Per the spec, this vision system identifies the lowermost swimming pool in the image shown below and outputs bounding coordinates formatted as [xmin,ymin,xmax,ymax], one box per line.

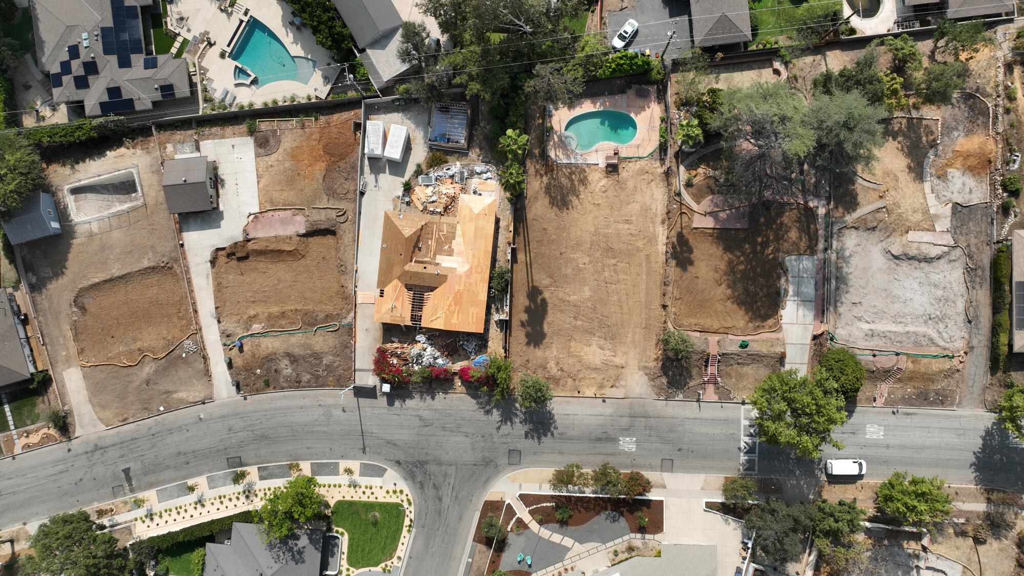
[62,167,144,224]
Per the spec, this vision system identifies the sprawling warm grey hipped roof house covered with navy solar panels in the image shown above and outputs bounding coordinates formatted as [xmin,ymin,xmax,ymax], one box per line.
[33,0,199,117]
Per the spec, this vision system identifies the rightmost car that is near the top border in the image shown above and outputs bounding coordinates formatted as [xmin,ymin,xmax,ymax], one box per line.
[610,11,643,52]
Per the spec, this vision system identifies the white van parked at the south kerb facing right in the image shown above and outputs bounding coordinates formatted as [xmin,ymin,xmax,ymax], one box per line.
[827,459,869,479]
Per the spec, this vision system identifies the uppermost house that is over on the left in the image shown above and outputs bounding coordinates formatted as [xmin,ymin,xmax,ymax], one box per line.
[341,0,403,50]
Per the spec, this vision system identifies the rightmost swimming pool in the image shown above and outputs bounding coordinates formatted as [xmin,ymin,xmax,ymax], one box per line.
[841,0,883,20]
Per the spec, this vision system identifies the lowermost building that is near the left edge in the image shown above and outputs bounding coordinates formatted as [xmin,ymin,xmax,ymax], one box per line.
[0,288,46,386]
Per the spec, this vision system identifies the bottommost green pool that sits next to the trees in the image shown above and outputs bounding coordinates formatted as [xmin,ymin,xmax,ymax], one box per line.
[562,108,639,154]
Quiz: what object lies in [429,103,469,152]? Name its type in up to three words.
shed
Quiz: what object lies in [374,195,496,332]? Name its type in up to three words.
house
